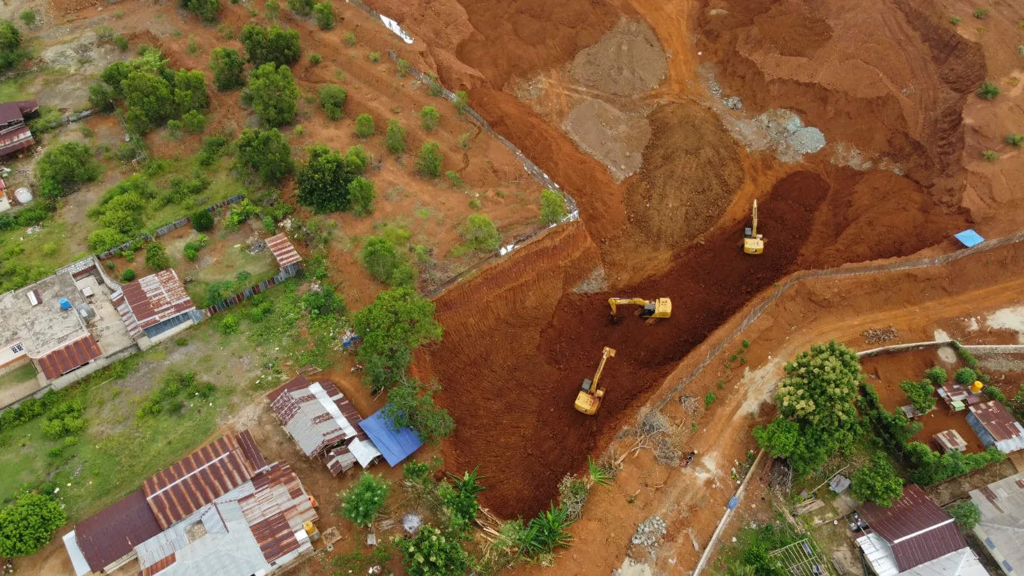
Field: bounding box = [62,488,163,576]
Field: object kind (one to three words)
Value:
barn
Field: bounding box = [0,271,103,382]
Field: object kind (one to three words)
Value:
house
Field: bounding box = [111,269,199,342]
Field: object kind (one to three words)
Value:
shed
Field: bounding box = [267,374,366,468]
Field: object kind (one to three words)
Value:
shed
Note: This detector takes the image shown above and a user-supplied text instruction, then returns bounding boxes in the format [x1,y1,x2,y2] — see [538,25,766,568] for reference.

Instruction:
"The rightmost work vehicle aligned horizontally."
[606,297,672,326]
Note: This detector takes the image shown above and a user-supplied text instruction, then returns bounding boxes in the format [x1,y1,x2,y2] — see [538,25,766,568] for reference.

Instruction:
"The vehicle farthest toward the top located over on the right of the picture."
[734,204,766,258]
